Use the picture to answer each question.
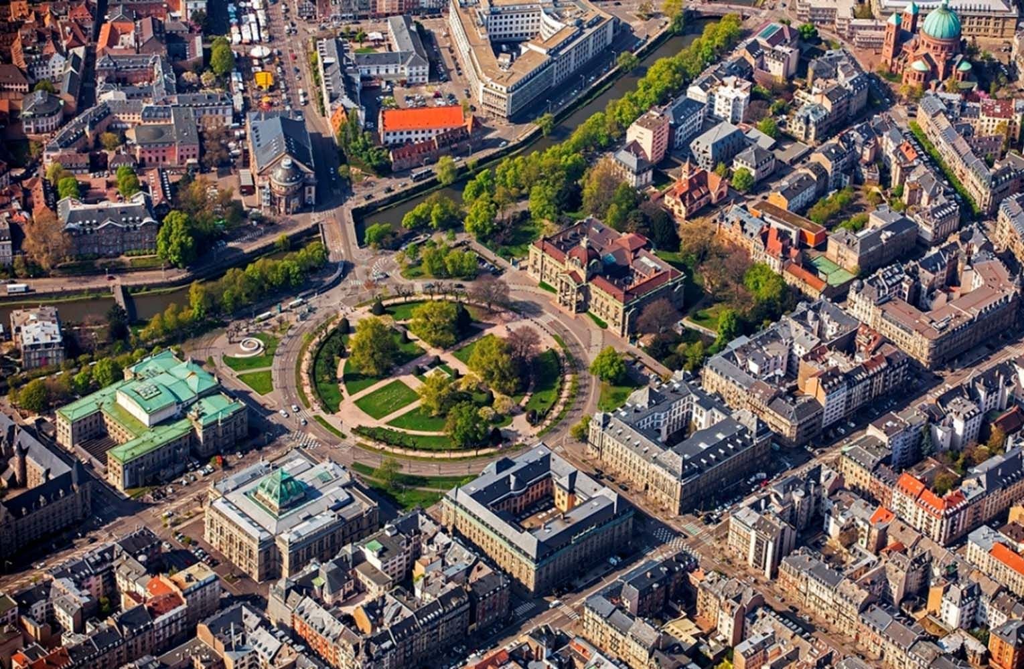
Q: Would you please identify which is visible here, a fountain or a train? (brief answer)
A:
train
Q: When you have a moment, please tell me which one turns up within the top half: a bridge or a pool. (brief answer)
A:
bridge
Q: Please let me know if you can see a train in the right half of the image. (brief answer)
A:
No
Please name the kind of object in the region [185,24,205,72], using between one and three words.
house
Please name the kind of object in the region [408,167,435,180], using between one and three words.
vehicle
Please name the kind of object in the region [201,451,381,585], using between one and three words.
building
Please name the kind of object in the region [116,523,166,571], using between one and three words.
house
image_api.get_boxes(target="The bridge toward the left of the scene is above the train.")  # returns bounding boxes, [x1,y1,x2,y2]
[320,205,364,252]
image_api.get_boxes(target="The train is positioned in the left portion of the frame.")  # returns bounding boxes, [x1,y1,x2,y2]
[297,261,345,298]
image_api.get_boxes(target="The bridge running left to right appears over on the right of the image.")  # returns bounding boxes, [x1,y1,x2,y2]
[679,0,764,23]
